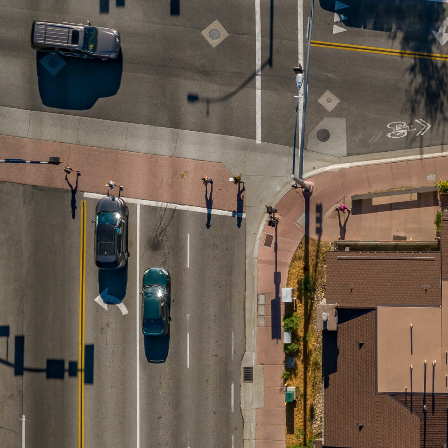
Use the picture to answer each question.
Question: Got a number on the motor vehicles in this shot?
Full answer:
The picture shows 3 motor vehicles.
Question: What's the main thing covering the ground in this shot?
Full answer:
The bulk of the photo consists of paved ground.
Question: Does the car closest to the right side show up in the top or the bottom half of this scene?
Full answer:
It is in the bottom half that the car closest to the right side appears.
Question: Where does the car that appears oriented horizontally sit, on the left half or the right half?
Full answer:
The car that appears oriented horizontally sits on the left side.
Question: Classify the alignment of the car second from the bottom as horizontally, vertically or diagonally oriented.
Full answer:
I'd say the car second from the bottom is aligned vertically in the picture.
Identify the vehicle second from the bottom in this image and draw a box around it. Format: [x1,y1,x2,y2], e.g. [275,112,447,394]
[89,197,127,271]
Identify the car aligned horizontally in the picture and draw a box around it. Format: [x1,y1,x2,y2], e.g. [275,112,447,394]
[30,19,120,61]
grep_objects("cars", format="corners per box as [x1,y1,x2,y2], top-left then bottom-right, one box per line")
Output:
[138,266,171,336]
[89,197,127,271]
[30,19,120,61]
